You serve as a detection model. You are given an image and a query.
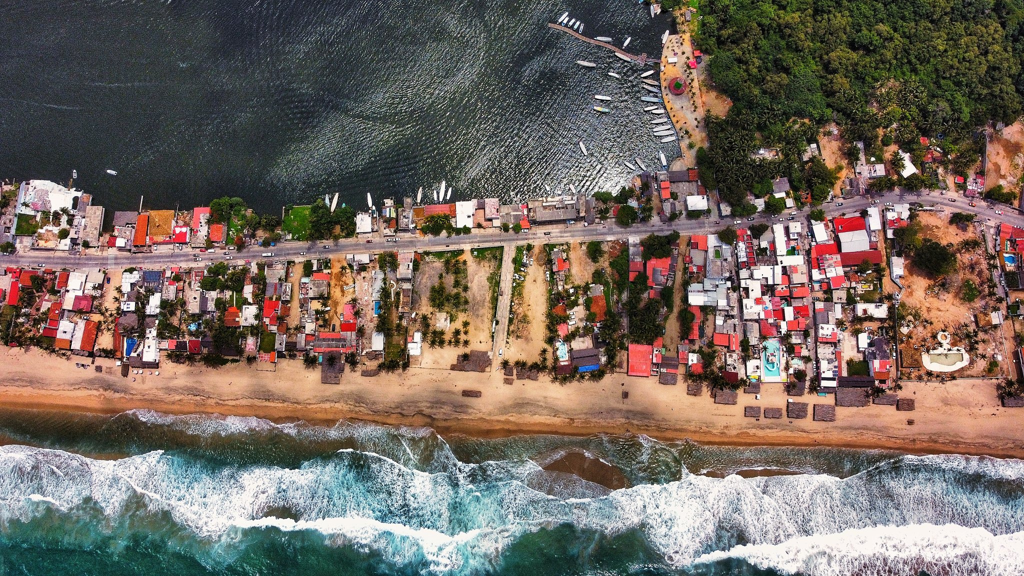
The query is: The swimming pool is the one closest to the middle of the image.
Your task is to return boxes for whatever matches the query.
[556,343,568,358]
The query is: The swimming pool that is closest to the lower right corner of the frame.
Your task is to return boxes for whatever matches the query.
[928,353,964,366]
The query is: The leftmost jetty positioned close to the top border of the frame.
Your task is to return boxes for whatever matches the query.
[548,23,638,59]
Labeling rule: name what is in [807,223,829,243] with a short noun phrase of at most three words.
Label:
house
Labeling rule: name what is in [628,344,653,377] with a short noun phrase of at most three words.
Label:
house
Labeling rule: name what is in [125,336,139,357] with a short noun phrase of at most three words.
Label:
swimming pool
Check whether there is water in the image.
Yes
